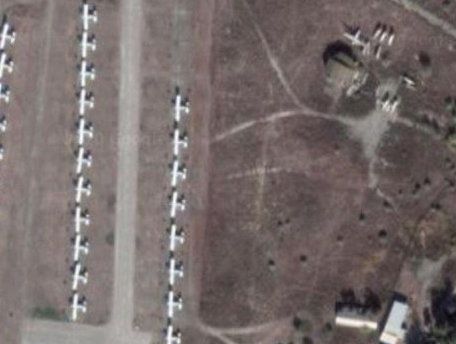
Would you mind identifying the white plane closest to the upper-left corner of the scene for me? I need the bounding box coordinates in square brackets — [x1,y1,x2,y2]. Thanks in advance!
[0,23,15,48]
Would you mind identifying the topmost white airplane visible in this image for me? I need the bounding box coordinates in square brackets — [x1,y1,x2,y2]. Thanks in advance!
[80,4,96,30]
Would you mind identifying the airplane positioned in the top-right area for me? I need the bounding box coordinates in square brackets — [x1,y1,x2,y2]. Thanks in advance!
[344,30,365,45]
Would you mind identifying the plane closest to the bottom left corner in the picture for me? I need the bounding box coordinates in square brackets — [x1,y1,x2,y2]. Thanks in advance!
[70,295,86,321]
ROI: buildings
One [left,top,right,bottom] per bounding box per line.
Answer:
[335,311,377,328]
[379,301,408,344]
